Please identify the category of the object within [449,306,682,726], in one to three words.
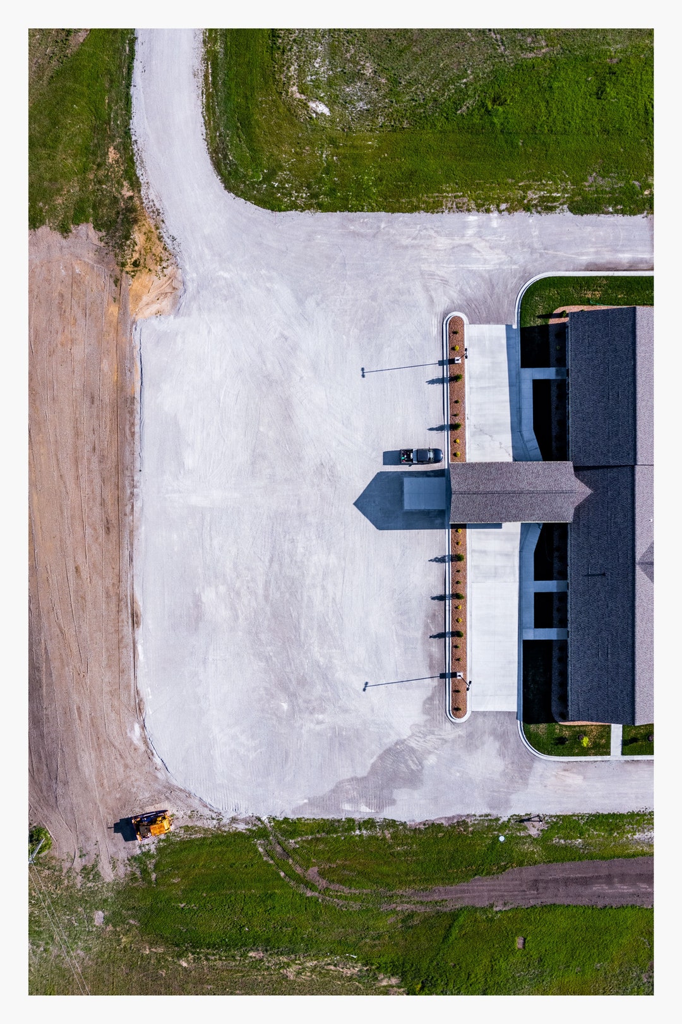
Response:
building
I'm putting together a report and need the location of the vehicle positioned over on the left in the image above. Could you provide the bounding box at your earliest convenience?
[127,809,175,841]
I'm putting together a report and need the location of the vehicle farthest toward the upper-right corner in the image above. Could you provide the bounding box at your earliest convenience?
[400,447,443,465]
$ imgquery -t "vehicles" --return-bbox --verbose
[127,809,175,841]
[400,447,443,465]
